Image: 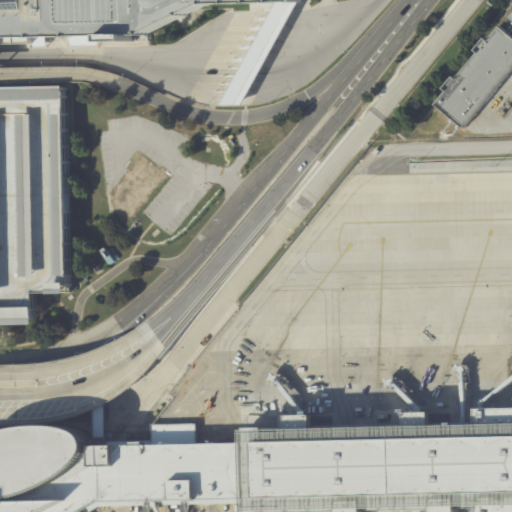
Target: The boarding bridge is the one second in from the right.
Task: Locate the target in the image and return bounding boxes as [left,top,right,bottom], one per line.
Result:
[450,362,467,424]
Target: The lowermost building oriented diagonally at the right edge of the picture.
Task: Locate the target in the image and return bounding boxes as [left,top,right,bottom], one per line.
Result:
[434,28,512,126]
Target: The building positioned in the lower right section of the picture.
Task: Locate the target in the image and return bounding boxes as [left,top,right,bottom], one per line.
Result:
[235,408,512,512]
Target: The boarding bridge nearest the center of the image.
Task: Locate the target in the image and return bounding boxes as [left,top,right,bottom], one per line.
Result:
[266,374,303,414]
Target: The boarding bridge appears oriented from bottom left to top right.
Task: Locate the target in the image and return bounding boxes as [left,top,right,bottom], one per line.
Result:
[476,370,512,408]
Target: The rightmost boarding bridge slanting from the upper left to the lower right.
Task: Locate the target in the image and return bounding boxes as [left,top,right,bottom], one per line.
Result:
[380,378,420,412]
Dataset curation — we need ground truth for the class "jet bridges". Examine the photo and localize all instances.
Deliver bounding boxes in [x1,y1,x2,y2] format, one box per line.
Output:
[380,378,420,412]
[450,362,467,424]
[476,370,512,408]
[266,374,303,414]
